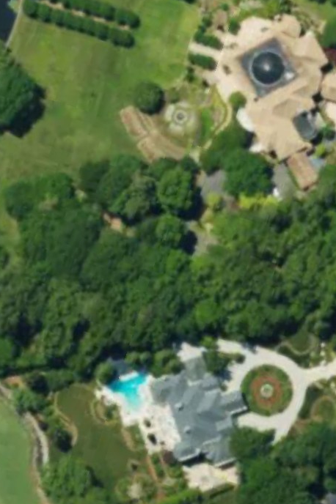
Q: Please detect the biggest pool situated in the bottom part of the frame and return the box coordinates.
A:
[108,371,149,414]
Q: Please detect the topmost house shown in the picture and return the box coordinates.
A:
[234,15,327,163]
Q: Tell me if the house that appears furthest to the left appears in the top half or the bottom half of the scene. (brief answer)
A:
bottom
